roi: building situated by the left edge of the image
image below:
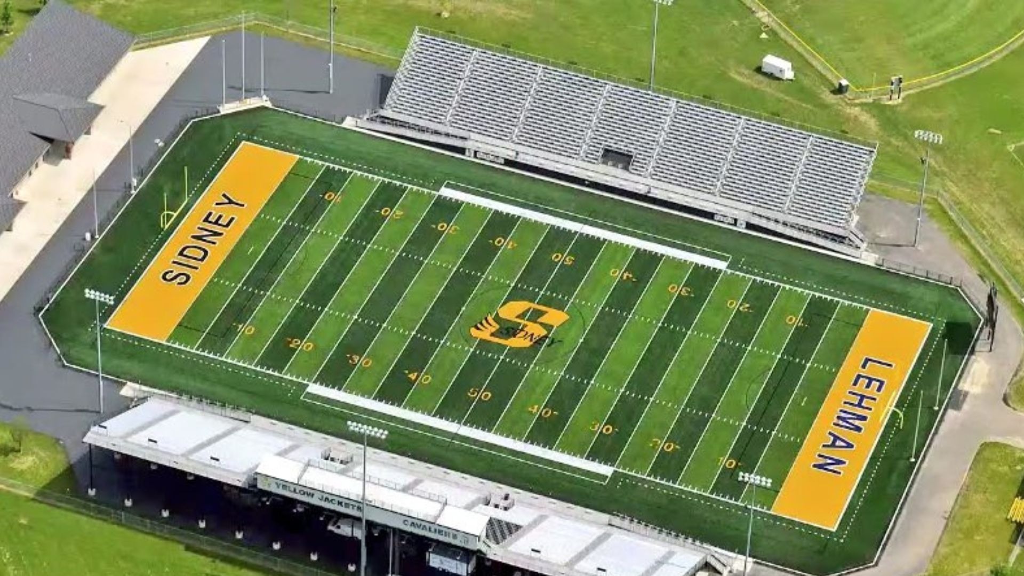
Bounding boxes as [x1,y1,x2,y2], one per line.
[0,0,140,238]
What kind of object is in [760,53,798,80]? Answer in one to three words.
trailer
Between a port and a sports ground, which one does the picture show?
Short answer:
sports ground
